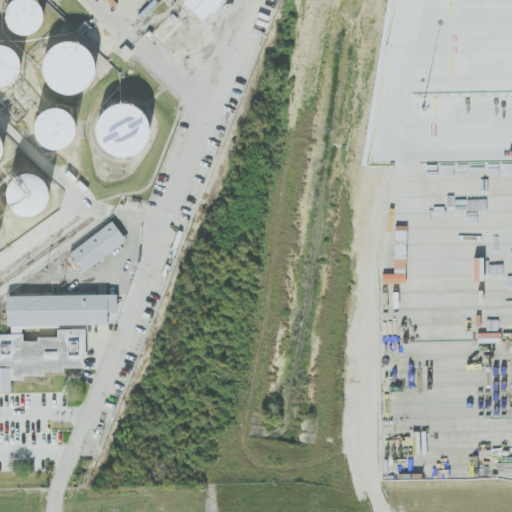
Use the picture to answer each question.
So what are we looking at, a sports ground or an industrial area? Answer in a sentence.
The area seen from above is an industrial area.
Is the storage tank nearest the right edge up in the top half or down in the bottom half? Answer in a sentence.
Seen from above, the storage tank nearest the right edge lies in the top half of the view.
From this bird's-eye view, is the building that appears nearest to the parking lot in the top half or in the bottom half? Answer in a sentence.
The building that appears nearest to the parking lot is in the bottom half of the image.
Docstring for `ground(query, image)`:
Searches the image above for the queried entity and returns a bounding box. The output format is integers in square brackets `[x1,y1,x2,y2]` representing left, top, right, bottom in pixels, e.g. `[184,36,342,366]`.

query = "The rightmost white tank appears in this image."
[96,100,152,158]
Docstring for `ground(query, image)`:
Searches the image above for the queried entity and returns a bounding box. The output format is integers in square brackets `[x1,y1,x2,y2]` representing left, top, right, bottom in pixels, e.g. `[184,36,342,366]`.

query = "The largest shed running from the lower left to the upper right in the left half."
[70,221,126,273]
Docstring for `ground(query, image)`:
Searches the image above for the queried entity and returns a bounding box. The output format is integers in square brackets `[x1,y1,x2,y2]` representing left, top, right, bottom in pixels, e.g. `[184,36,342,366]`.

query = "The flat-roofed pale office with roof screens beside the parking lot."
[0,328,86,381]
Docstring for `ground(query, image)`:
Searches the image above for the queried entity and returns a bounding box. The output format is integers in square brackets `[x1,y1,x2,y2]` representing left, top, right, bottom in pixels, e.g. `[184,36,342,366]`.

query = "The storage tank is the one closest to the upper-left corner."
[3,0,46,36]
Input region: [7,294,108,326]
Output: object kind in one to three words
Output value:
shed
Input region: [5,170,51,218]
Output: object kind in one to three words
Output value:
storage tank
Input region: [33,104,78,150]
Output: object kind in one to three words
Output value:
storage tank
